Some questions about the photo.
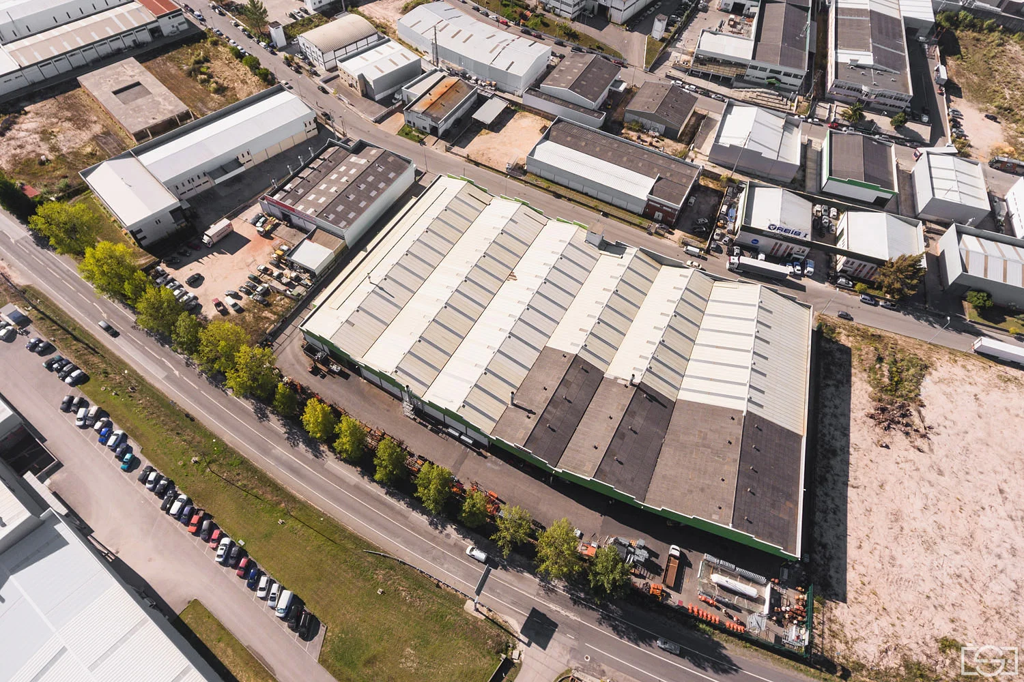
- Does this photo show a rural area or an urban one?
urban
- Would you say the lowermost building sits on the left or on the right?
left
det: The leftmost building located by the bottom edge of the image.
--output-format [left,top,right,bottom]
[0,508,224,682]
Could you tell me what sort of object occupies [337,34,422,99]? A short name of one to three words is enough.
building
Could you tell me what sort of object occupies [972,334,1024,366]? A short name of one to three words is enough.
trailer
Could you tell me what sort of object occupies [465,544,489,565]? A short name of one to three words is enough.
vehicle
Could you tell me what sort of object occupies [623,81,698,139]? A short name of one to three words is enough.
shed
